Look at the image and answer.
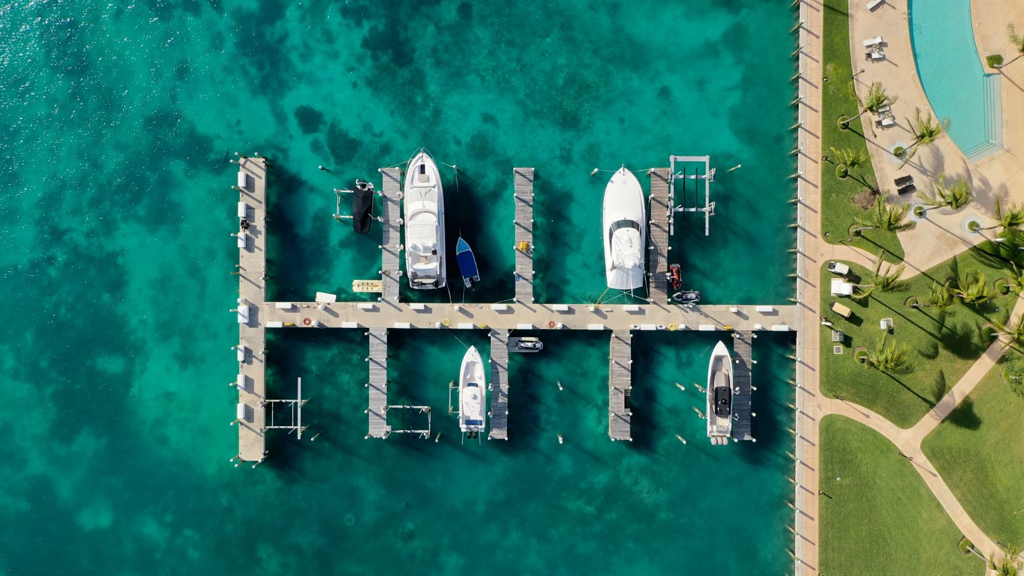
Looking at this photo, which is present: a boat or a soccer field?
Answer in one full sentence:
Looking from above, you can make out a boat.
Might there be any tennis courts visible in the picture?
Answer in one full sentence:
No, there isn't any tennis court down there.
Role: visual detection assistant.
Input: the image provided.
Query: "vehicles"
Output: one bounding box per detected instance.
[820,259,851,276]
[822,299,851,318]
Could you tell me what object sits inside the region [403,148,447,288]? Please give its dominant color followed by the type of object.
white boat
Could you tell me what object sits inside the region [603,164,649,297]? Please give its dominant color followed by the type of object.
white boat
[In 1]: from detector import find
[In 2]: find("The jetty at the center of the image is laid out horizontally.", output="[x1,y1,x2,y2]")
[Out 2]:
[265,302,796,331]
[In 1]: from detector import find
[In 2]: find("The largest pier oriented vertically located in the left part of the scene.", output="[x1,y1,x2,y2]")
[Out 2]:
[239,158,268,461]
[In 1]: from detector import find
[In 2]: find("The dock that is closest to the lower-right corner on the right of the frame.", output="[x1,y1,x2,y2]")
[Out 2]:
[732,330,751,440]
